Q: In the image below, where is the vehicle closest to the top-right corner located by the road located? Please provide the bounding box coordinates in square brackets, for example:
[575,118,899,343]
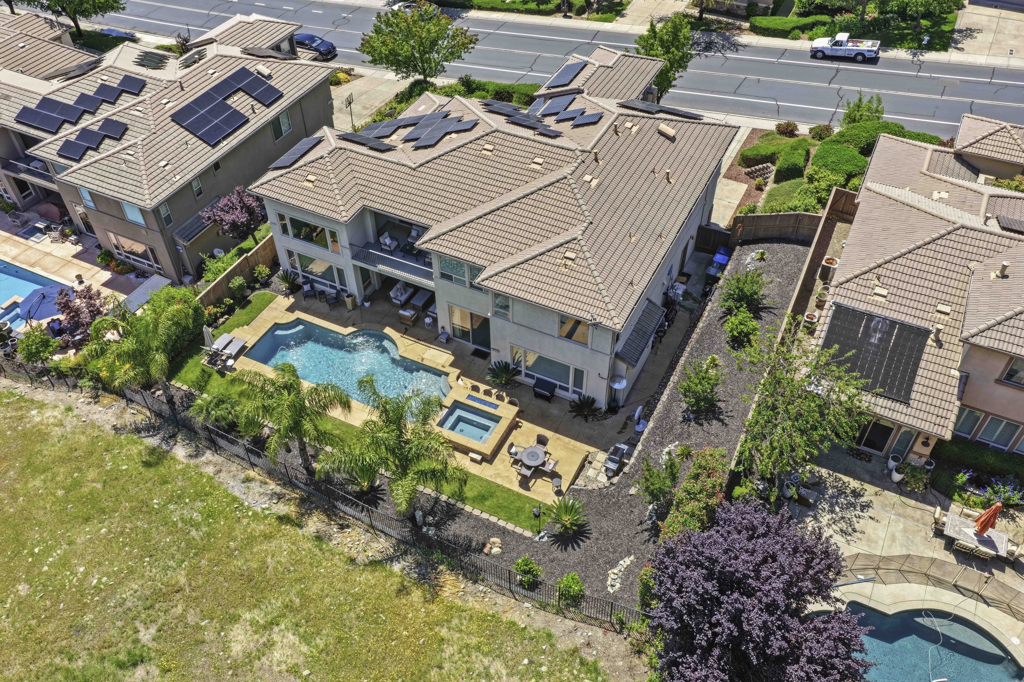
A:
[804,30,879,62]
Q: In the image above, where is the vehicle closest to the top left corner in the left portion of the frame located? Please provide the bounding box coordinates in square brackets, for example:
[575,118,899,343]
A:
[300,34,336,60]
